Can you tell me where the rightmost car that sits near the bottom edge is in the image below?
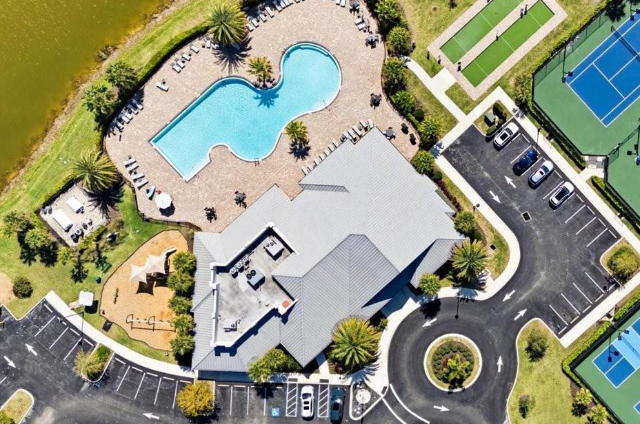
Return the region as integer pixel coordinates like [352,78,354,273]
[330,390,344,421]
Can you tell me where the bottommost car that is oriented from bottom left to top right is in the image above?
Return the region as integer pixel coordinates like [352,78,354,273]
[548,182,575,207]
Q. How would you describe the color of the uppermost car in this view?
white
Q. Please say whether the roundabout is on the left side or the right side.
right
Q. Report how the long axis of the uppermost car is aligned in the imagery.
diagonally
